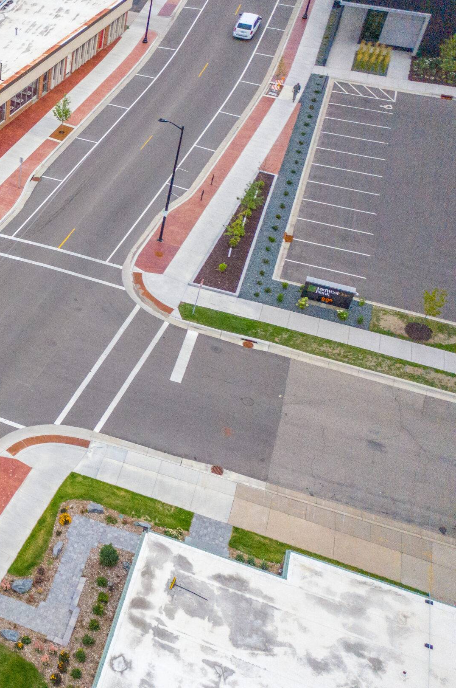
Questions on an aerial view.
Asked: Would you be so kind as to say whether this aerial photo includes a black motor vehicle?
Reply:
No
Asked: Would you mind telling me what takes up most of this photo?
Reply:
paved ground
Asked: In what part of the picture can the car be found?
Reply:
top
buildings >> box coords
[315,0,456,54]
[94,534,456,688]
[0,0,131,127]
